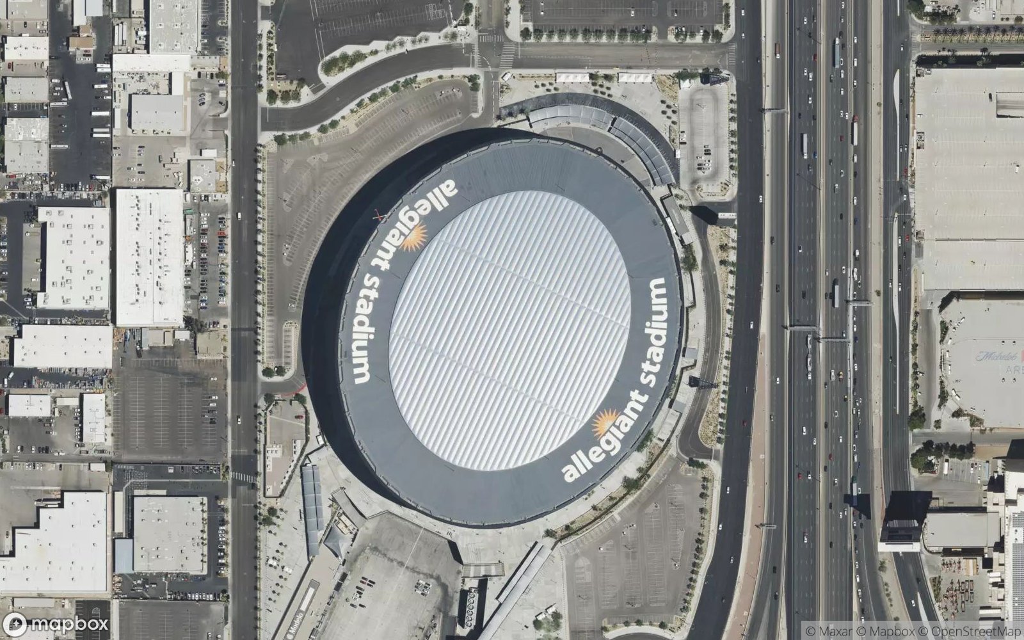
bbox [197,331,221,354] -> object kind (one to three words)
house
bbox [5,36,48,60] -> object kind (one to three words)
building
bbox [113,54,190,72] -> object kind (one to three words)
building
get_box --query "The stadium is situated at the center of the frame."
[334,133,687,531]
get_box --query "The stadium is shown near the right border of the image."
[942,301,1024,428]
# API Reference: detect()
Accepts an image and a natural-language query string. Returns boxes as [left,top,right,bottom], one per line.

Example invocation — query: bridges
[461,563,505,578]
